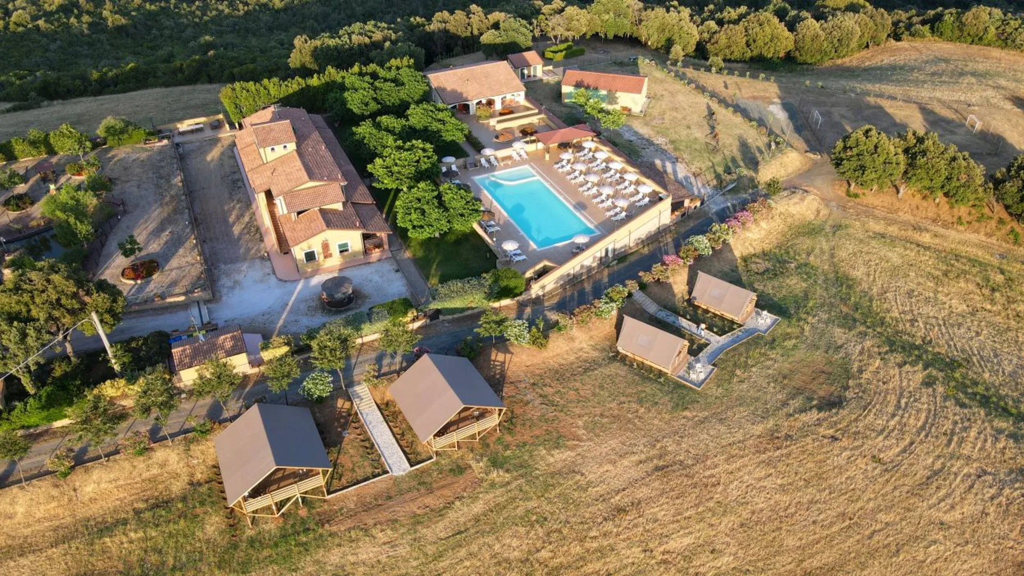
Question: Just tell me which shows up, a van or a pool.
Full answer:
Visible in the photo is a pool.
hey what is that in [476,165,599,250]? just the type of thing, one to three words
swimming pool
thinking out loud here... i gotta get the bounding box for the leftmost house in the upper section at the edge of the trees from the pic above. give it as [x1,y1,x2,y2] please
[237,100,392,272]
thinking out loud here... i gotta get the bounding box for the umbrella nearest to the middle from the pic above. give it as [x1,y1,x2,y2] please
[502,242,519,264]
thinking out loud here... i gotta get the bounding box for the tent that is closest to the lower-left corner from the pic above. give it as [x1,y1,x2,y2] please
[212,406,332,527]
